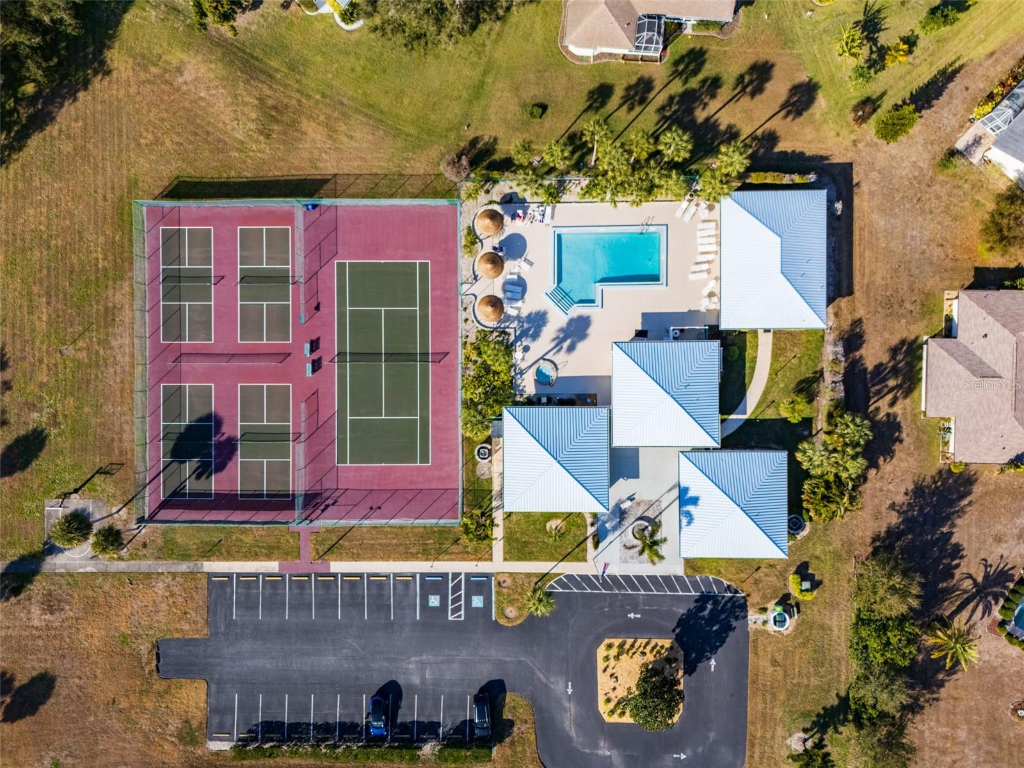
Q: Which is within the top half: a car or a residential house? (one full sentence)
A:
Visible within the top half is a residential house.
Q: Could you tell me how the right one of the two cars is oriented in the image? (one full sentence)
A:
I'd say the right one of the two cars is aligned from top to bottom in the picture.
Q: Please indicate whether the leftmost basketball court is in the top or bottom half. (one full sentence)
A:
It is in the bottom half that the leftmost basketball court appears.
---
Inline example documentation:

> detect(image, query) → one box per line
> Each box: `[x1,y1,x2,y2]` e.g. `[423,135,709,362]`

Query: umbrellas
[475,251,506,281]
[474,207,505,238]
[476,294,506,324]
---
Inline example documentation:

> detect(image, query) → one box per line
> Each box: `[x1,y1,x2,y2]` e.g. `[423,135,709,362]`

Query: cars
[474,693,494,736]
[369,695,388,734]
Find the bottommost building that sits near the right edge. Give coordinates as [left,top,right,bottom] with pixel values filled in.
[923,290,1024,463]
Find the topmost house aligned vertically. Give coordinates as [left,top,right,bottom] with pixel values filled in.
[978,77,1024,186]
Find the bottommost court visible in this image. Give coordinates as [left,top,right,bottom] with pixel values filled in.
[45,500,106,561]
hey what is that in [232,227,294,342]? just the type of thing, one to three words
sports court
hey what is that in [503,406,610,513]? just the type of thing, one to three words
building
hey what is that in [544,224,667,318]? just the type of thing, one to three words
swimming pool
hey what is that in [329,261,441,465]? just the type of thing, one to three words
tennis court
